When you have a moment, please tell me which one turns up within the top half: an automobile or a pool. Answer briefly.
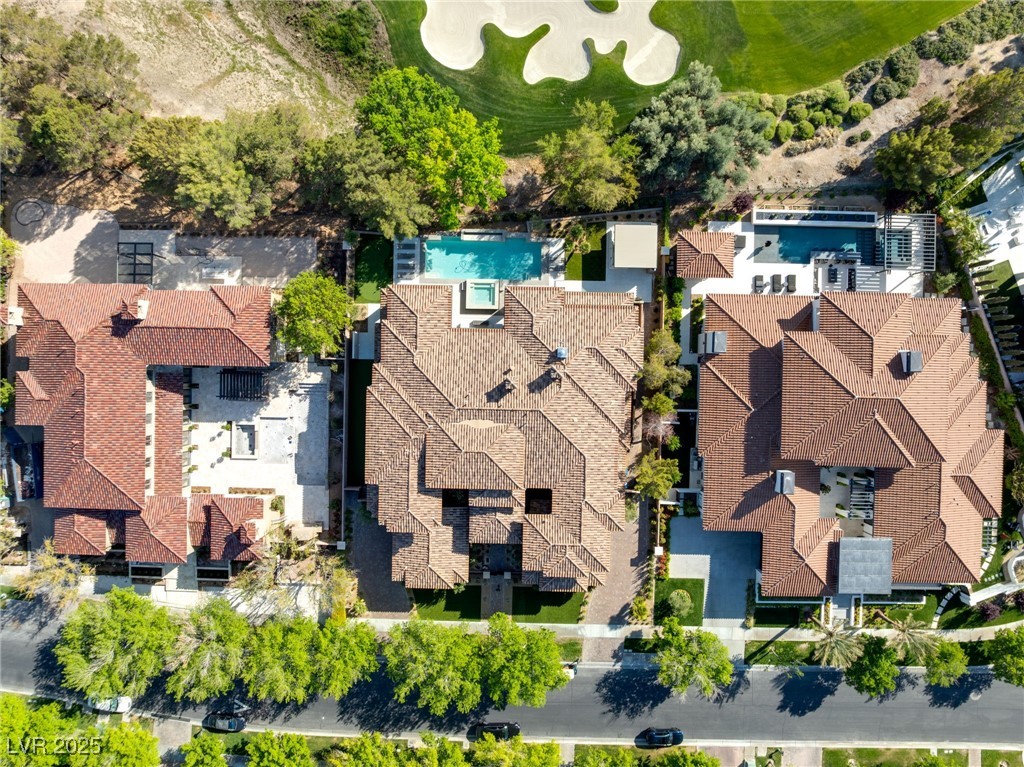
pool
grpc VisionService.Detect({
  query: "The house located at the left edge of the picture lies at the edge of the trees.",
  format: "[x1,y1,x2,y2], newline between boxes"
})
[8,283,286,564]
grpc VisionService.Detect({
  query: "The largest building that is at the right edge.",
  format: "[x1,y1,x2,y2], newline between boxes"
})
[691,291,1005,598]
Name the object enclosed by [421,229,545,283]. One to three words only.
swimming pool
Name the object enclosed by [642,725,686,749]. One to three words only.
car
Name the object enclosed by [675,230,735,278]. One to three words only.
building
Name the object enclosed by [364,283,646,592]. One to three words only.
house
